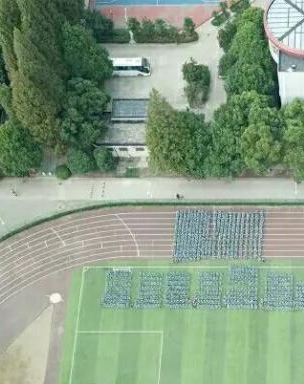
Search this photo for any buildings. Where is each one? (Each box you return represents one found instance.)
[95,97,150,156]
[265,0,304,113]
